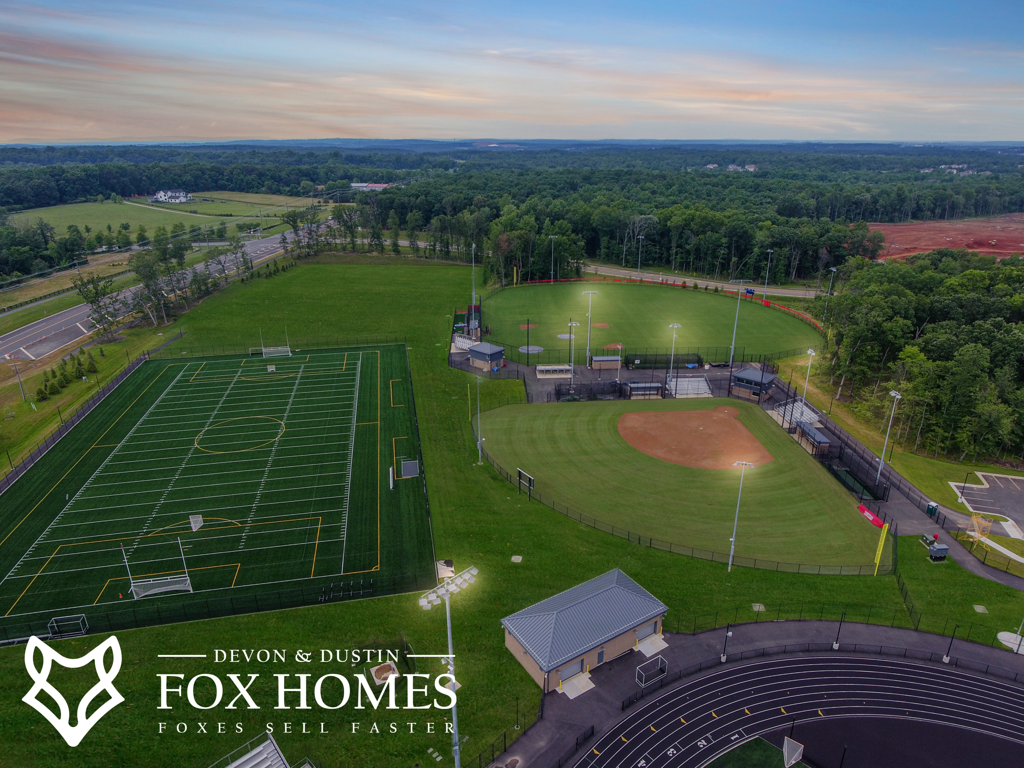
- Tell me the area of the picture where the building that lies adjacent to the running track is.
bottom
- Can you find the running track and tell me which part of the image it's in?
bottom right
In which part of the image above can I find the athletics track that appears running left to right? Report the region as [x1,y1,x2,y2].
[574,657,1024,768]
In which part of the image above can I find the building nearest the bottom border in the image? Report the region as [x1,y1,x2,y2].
[499,569,671,692]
